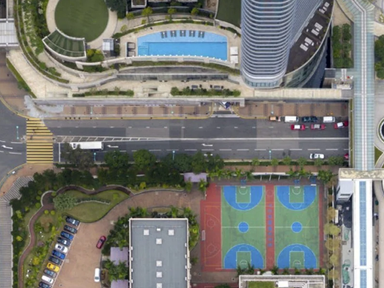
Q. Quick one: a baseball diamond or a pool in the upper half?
pool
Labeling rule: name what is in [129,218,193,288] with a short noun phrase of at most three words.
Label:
building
